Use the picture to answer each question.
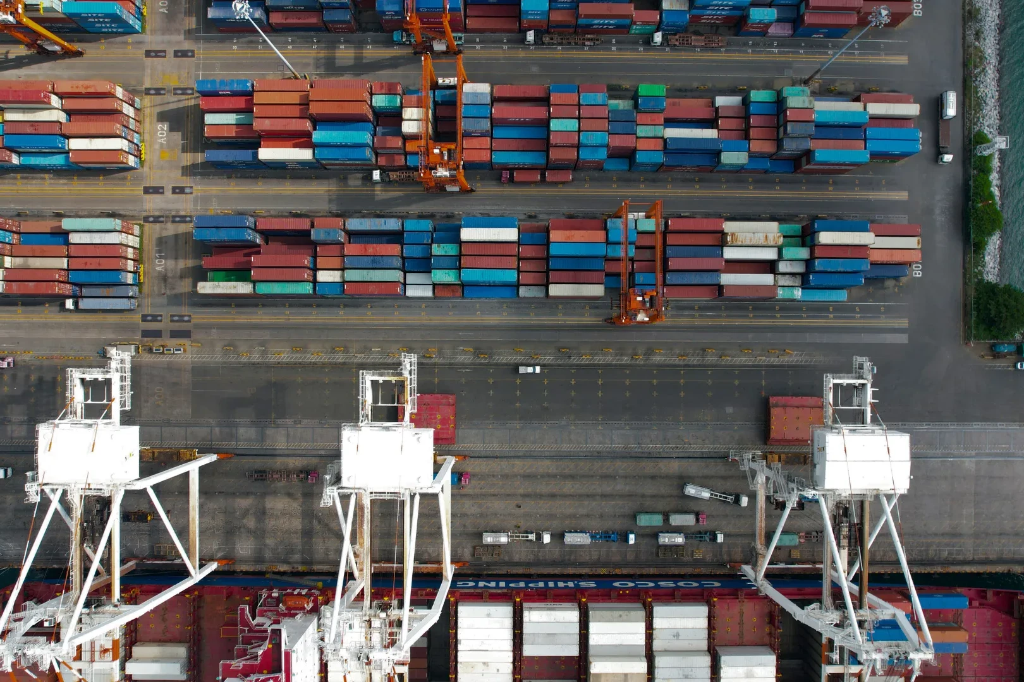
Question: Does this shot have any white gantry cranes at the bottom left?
Yes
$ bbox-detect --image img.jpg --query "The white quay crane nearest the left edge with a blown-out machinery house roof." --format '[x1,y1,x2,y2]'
[0,346,233,682]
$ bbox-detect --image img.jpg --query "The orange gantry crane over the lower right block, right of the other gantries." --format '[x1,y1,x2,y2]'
[597,199,668,330]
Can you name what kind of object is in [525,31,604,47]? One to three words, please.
vehicle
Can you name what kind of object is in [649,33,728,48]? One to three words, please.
vehicle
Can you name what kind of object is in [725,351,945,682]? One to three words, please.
container crane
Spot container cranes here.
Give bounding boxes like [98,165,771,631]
[312,348,472,682]
[597,199,668,330]
[0,346,233,682]
[418,50,483,192]
[725,351,945,682]
[0,0,93,52]
[406,0,471,54]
